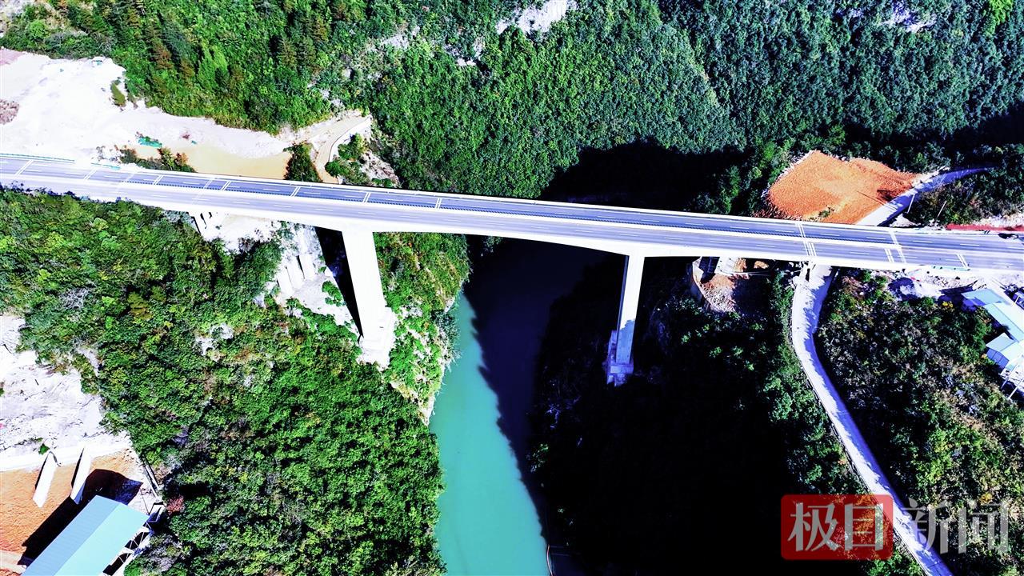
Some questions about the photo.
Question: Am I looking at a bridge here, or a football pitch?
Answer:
bridge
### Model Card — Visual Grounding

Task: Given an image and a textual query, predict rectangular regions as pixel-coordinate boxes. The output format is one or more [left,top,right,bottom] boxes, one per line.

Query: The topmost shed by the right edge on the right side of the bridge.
[954,289,1004,319]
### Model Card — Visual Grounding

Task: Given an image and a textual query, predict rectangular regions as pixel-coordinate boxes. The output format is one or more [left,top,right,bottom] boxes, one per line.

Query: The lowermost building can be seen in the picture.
[22,496,167,576]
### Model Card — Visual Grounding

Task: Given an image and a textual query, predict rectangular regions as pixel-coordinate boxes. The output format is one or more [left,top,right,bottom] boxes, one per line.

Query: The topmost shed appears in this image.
[711,259,735,296]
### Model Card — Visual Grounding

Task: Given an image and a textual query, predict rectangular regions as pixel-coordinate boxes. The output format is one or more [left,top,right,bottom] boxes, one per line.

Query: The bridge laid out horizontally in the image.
[184,173,910,392]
